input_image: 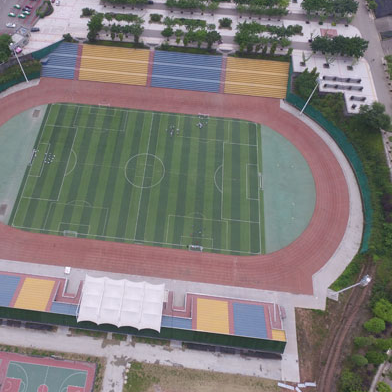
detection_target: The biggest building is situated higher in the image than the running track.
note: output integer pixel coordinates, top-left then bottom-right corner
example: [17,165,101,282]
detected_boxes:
[12,28,32,55]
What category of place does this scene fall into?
sports ground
